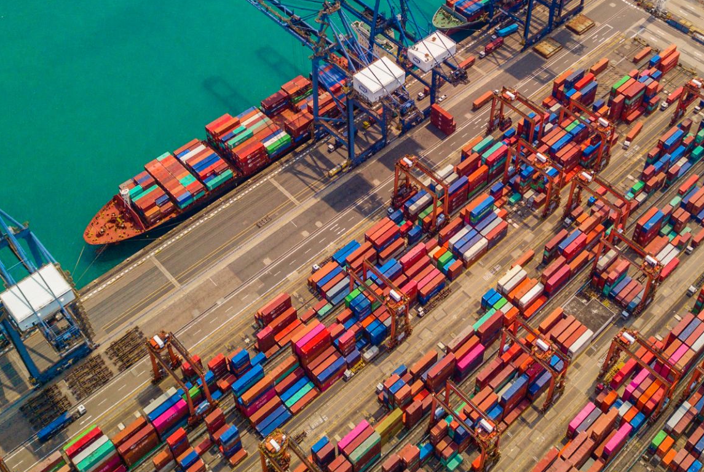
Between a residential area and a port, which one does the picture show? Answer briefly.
port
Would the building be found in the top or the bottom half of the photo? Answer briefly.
bottom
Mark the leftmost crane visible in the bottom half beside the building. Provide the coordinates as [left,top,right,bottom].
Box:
[497,313,577,409]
